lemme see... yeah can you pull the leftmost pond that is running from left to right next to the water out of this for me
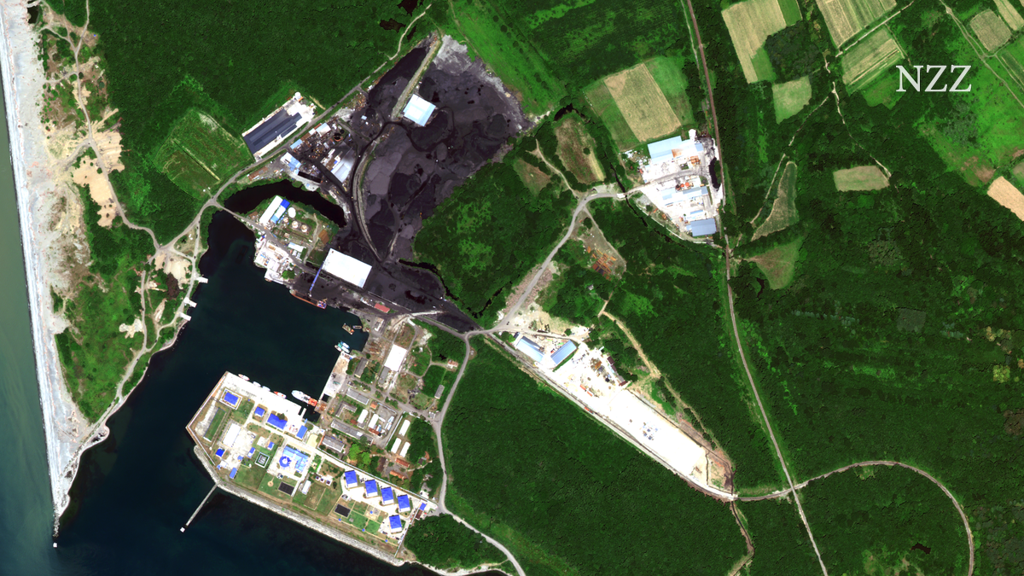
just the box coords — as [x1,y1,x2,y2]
[225,179,346,228]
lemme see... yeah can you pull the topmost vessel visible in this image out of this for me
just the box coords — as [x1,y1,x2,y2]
[290,290,327,308]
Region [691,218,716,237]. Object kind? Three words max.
building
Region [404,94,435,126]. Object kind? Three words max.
shed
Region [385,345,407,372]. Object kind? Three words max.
building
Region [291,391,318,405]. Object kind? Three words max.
ship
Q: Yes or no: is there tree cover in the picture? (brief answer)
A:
Yes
